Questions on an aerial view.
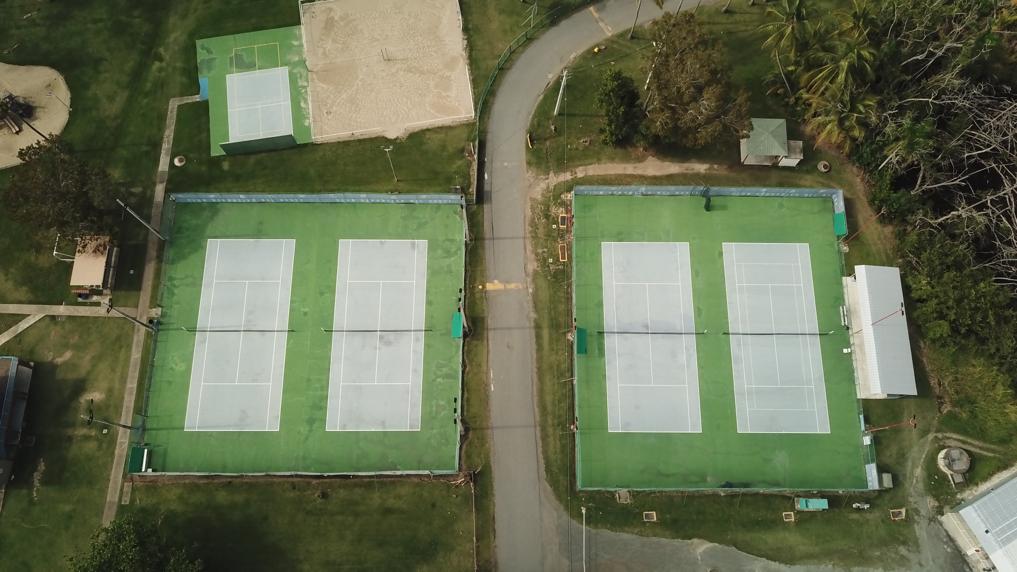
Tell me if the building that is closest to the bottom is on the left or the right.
right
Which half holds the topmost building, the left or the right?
right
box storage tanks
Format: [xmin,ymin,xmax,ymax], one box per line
[939,446,973,490]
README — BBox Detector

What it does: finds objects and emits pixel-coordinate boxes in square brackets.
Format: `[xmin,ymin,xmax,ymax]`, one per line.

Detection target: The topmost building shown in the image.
[740,118,804,167]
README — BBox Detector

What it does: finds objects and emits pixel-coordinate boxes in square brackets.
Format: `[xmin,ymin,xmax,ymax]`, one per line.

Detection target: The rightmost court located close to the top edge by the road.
[301,0,475,142]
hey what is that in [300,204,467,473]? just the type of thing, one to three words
tennis court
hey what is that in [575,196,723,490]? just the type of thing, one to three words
tennis court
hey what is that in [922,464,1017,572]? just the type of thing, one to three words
building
